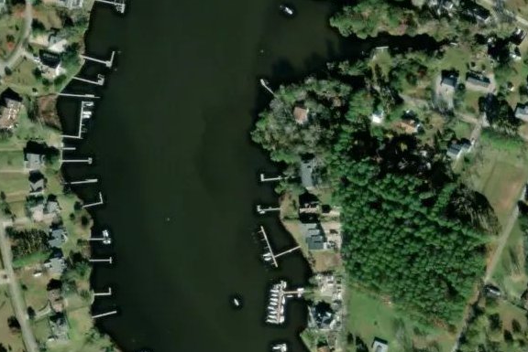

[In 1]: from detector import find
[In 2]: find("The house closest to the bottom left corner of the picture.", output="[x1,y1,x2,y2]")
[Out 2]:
[48,317,69,341]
